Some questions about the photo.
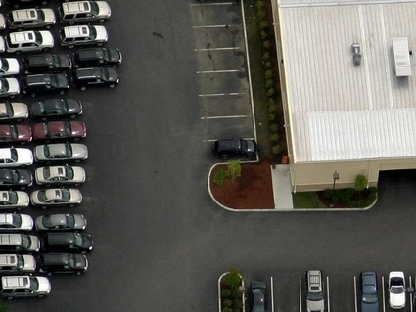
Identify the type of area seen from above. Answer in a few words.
parking lot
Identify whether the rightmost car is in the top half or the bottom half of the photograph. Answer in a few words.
bottom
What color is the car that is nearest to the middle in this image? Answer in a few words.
black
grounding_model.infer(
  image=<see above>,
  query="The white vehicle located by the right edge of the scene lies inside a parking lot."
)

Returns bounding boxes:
[386,270,408,310]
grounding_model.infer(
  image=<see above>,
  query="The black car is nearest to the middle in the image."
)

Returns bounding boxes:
[209,139,258,162]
